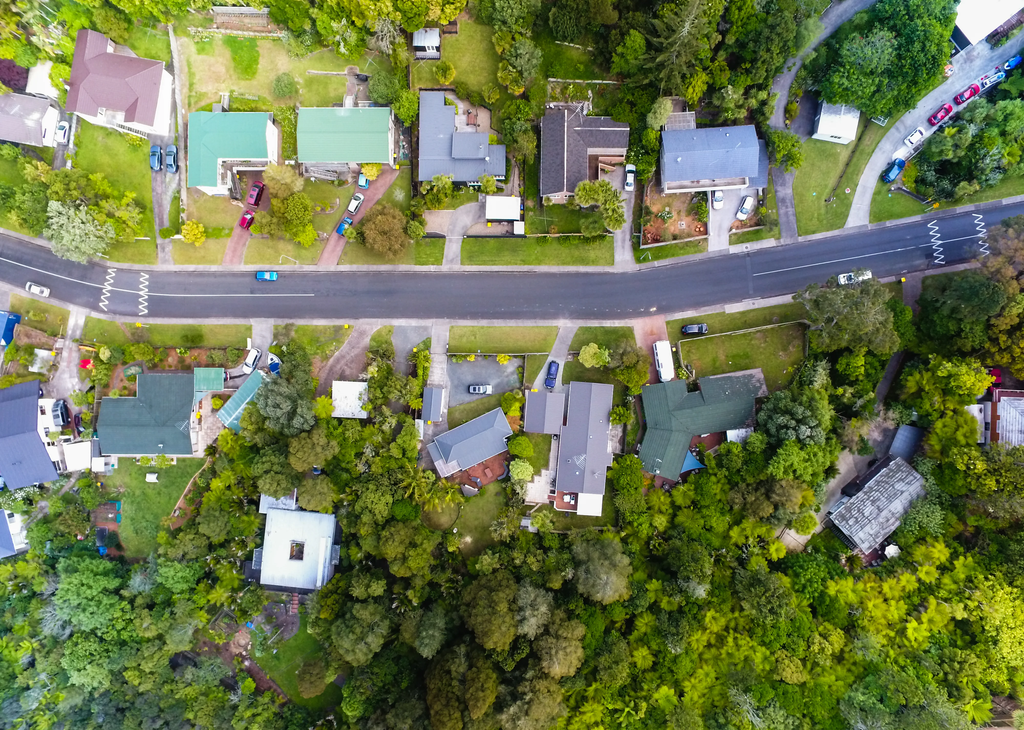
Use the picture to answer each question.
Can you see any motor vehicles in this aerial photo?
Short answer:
Yes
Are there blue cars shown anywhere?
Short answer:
Yes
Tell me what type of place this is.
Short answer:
residential area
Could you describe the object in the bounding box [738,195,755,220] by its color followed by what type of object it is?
white car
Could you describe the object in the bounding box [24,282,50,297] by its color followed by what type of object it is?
white car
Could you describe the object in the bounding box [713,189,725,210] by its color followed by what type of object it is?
white vehicle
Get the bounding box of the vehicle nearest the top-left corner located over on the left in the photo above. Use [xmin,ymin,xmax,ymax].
[56,121,70,144]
